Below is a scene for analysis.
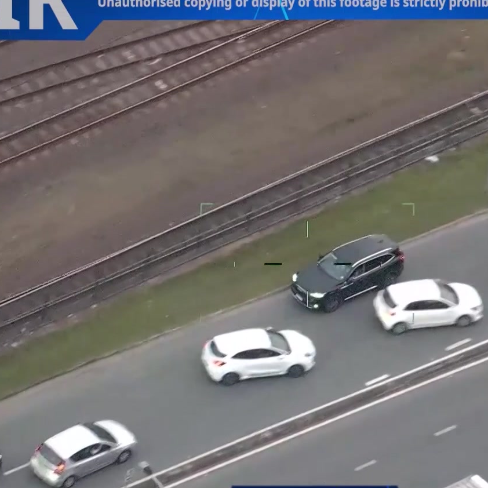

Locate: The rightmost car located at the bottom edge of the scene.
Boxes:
[28,415,137,488]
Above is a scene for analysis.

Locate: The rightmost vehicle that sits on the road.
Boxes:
[374,273,481,335]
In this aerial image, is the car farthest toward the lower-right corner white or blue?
white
